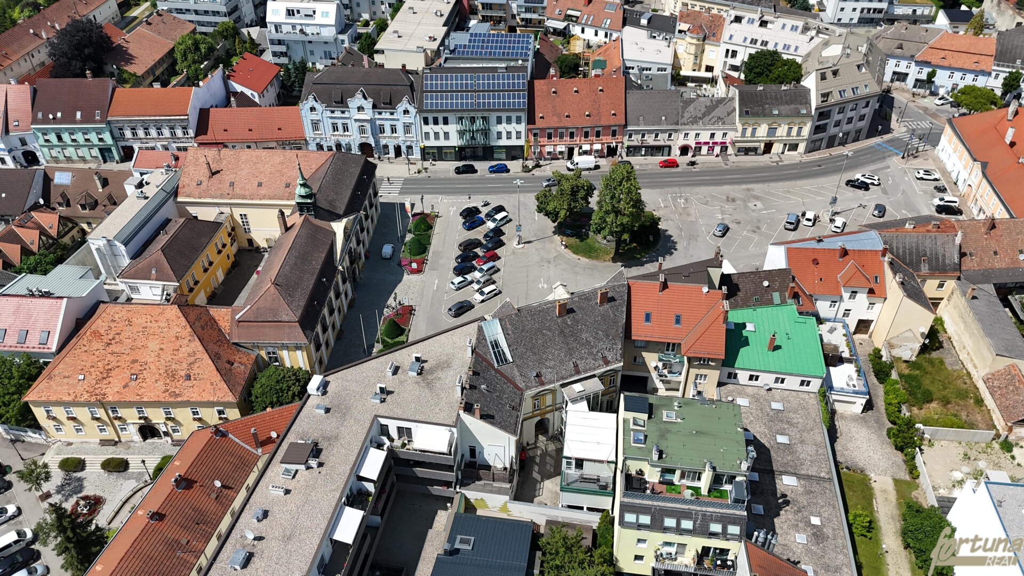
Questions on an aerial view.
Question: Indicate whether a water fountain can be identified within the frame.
Yes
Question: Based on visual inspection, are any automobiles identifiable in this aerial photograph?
Yes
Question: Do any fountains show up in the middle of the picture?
No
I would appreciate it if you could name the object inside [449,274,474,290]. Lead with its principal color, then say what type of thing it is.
white car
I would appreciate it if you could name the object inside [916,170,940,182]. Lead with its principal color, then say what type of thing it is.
white vehicle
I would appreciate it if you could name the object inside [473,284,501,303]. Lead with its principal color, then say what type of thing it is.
white car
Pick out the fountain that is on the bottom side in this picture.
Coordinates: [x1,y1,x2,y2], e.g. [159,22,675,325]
[62,489,112,526]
